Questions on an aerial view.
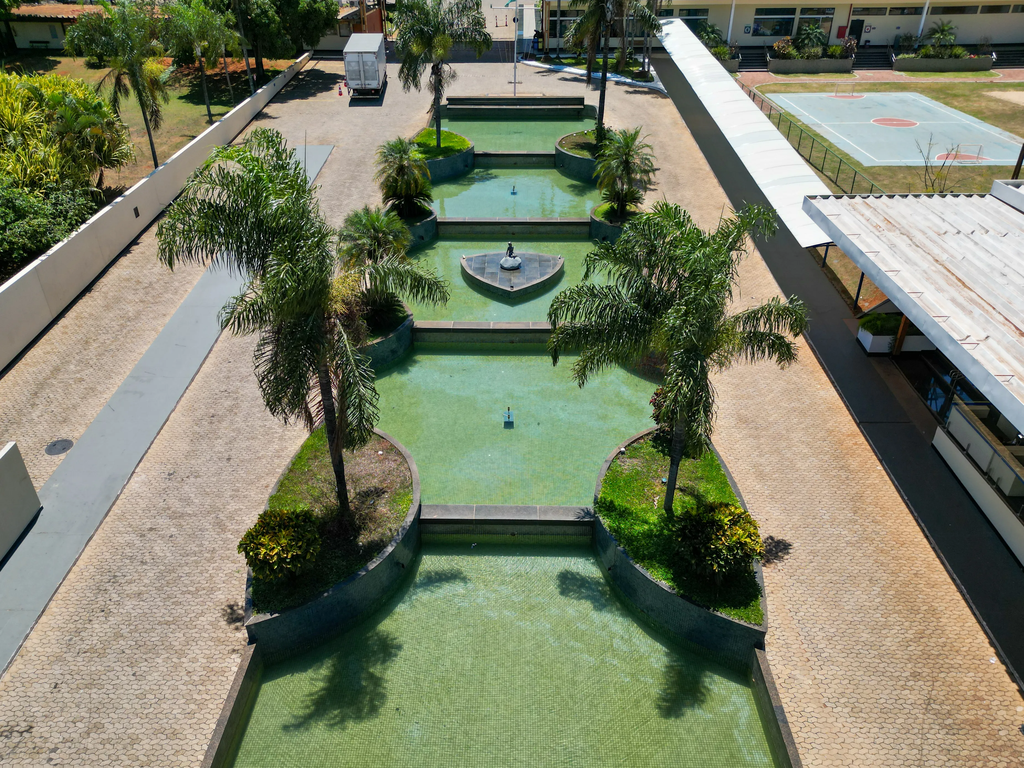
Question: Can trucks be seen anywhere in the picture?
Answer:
Yes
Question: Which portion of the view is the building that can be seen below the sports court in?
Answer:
right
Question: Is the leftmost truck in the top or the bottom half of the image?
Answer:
top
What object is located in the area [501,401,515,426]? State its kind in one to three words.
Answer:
fountain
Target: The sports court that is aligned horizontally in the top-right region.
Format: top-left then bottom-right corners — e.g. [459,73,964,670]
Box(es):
[769,92,1020,166]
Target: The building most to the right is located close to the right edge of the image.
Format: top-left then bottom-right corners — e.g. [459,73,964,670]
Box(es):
[802,194,1024,463]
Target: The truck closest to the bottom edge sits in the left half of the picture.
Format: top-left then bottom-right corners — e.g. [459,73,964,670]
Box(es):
[342,35,393,97]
